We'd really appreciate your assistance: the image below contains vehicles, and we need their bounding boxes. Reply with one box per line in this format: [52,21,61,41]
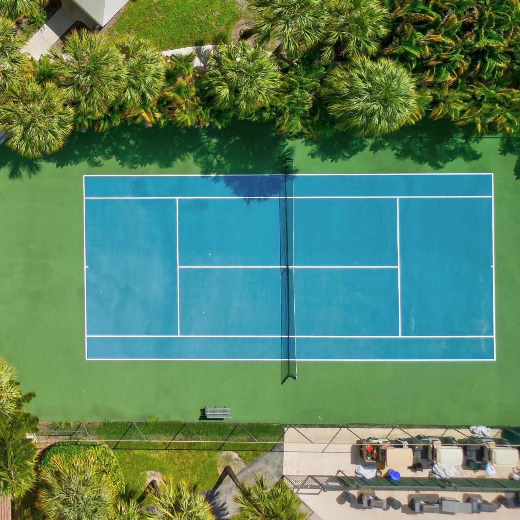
[414,438,470,470]
[468,440,520,471]
[366,438,420,470]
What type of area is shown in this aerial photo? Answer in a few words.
sports ground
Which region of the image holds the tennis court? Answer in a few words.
center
